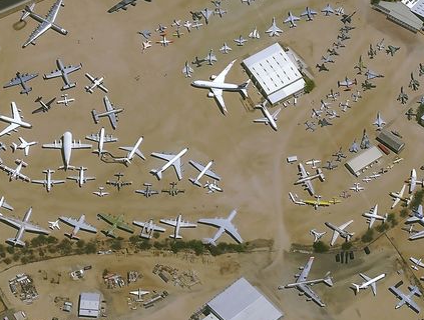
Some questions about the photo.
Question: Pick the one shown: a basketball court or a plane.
plane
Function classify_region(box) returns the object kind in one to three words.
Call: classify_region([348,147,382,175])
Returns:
building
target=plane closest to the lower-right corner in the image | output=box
[389,286,420,312]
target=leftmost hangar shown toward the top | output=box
[243,43,305,108]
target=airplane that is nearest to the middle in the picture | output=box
[188,159,220,188]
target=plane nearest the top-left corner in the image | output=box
[21,0,68,46]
